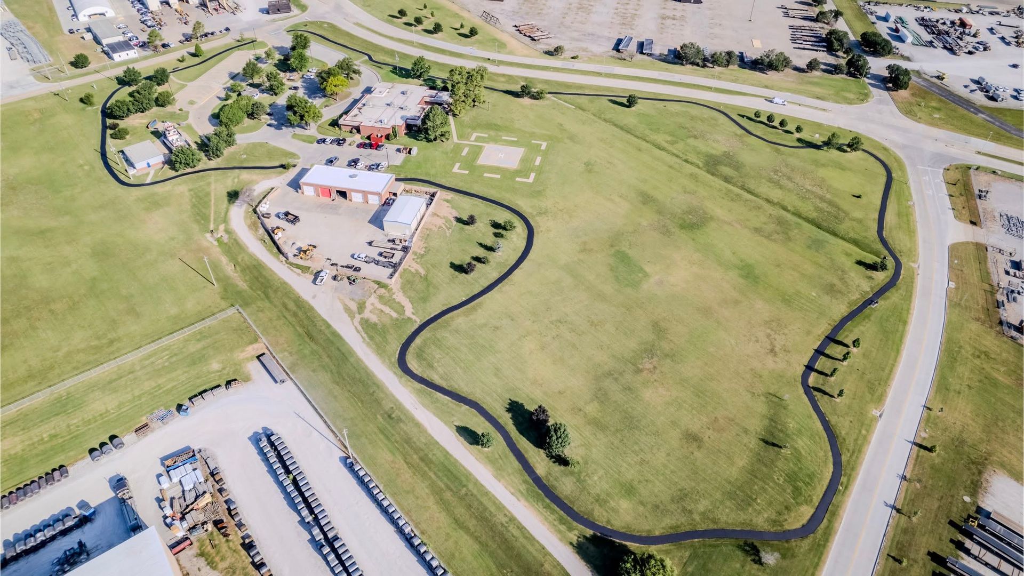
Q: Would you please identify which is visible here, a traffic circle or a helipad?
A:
helipad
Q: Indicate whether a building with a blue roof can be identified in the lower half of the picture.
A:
No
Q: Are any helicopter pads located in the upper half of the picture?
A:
Yes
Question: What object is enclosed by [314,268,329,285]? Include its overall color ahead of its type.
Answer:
white vehicle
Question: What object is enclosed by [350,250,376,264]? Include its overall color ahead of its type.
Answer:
white vehicle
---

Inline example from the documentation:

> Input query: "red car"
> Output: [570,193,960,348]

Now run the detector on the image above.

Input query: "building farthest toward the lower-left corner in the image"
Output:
[58,525,181,576]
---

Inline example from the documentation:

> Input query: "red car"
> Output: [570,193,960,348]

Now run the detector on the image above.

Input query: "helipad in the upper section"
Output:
[453,133,546,182]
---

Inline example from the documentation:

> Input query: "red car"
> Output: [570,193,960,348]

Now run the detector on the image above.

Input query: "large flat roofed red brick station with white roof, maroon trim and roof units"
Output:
[339,82,452,139]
